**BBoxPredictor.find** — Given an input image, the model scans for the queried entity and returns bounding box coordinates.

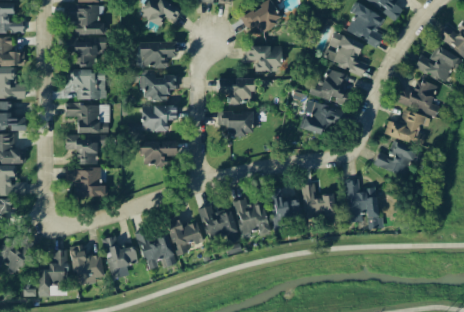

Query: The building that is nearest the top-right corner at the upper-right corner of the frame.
[440,24,464,60]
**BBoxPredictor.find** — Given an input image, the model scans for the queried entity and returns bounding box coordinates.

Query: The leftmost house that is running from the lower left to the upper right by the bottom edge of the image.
[37,250,70,299]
